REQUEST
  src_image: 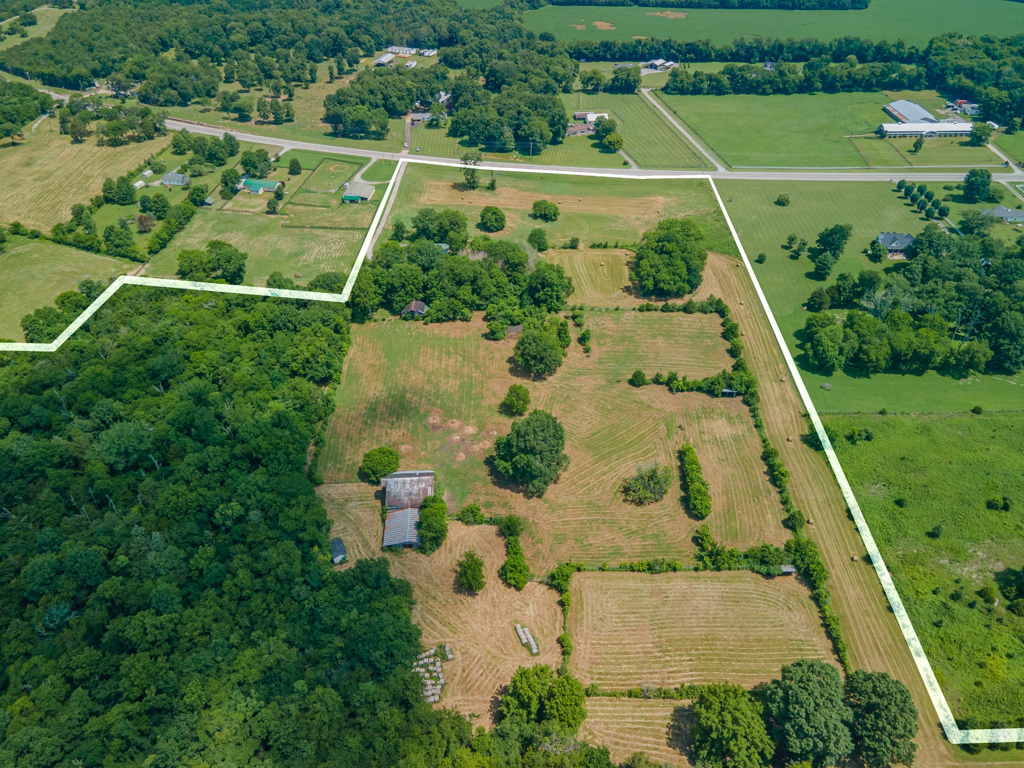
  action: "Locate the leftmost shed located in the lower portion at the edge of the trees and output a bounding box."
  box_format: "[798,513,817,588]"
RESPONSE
[330,534,346,563]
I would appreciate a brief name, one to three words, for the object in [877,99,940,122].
barn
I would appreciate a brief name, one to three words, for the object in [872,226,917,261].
house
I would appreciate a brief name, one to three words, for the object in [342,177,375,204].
barn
